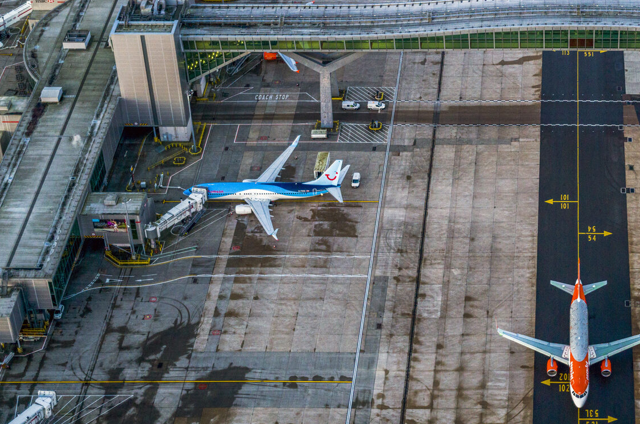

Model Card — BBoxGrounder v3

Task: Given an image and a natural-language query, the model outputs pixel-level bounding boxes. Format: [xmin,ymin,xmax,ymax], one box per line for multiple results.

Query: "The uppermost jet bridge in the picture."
[0,0,39,41]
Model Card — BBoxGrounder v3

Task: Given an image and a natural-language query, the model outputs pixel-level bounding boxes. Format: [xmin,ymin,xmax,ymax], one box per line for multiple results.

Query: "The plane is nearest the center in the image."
[184,135,345,239]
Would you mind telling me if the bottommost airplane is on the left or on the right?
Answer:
right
